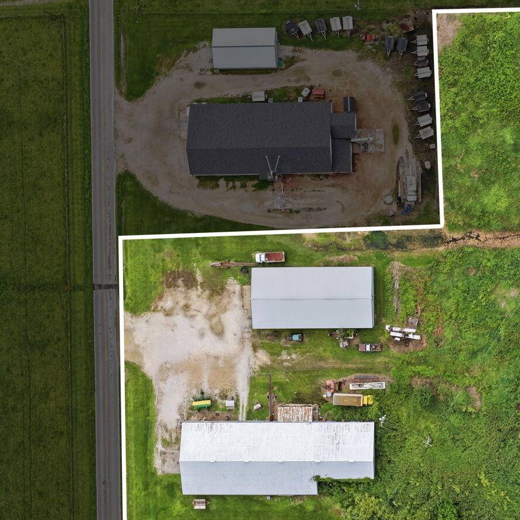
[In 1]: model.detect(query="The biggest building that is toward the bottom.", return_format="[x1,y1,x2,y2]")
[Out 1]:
[178,420,374,496]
